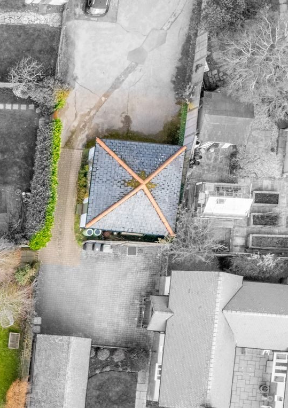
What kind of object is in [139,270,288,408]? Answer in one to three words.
house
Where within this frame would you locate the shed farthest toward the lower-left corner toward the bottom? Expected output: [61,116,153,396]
[29,334,92,408]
